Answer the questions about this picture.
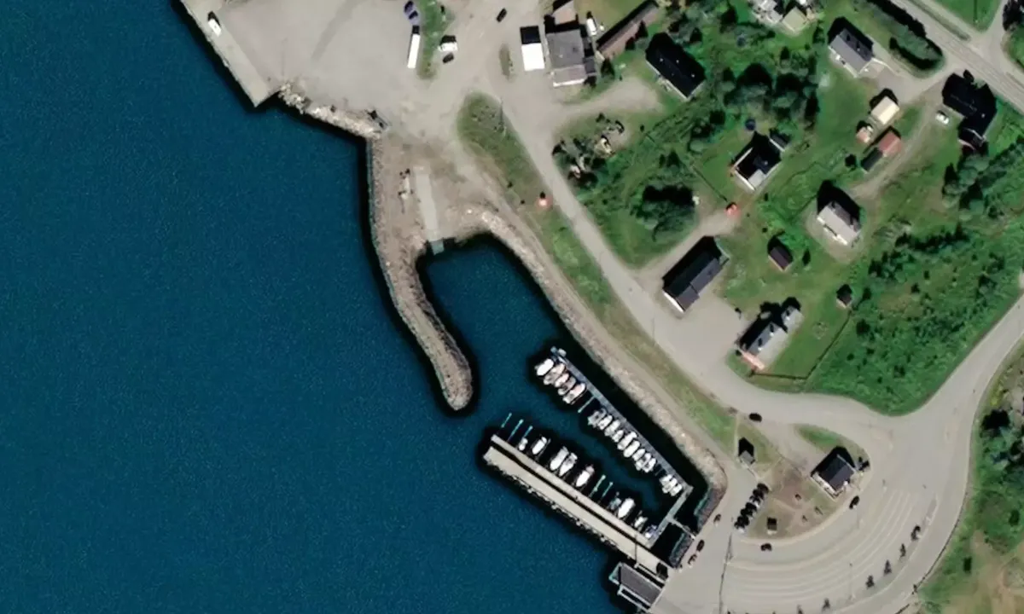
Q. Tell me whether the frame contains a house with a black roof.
Yes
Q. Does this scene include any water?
Yes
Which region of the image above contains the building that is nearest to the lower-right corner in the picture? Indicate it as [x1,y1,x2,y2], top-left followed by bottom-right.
[818,454,856,492]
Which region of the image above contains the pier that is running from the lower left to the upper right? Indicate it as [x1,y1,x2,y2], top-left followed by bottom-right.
[650,488,690,545]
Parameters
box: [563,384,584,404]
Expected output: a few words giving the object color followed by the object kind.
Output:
white boat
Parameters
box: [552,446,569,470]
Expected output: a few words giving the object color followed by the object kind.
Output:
white boat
